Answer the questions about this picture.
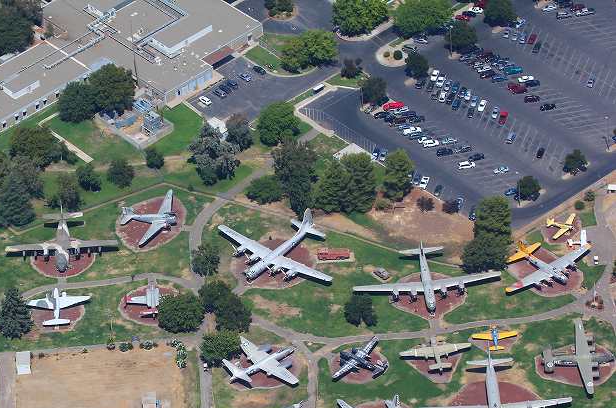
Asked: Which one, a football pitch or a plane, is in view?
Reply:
plane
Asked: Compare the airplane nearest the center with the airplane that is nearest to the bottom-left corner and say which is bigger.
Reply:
the airplane nearest the center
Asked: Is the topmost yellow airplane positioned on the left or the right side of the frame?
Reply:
right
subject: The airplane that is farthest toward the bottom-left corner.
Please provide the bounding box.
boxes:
[27,287,91,322]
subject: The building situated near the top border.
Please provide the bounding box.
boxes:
[0,0,263,134]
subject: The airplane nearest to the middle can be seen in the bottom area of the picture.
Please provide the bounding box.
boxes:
[218,214,332,283]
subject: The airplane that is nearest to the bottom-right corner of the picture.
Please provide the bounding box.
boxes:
[543,317,615,390]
